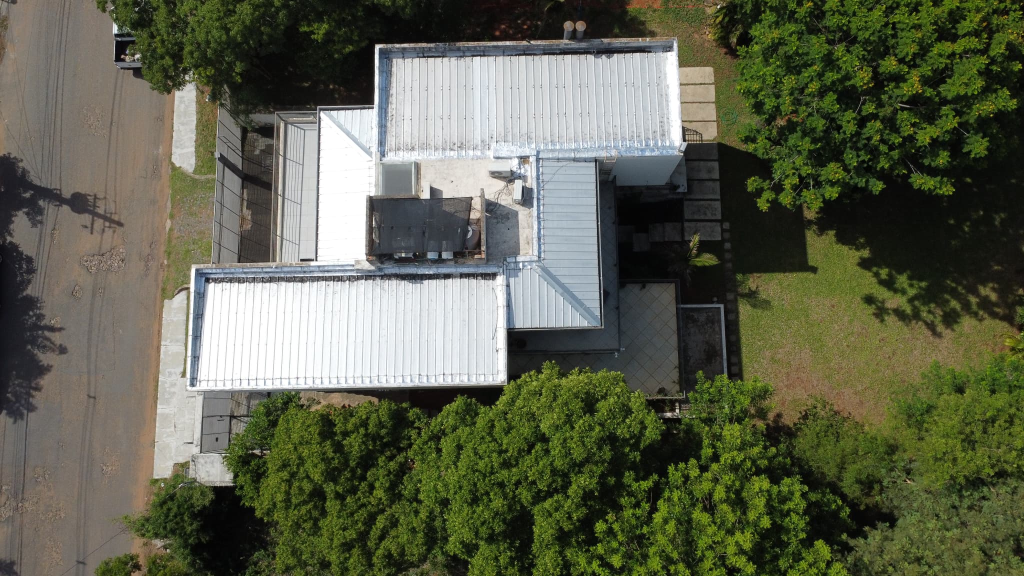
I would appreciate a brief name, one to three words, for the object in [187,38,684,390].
house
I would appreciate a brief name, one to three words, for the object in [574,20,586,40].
chimney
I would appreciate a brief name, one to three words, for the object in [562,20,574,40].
chimney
